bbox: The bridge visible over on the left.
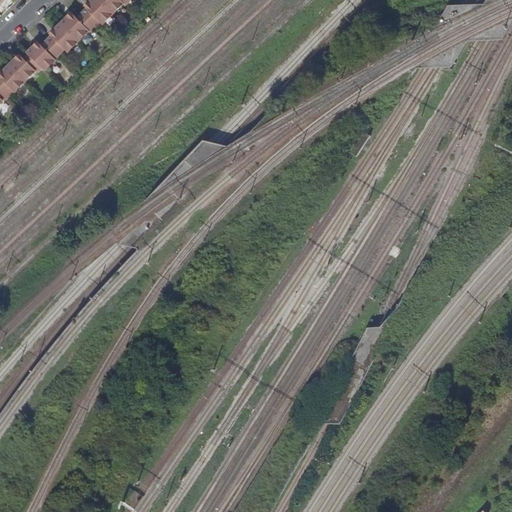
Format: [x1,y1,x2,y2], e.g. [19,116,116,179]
[110,130,252,250]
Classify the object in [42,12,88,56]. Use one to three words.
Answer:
house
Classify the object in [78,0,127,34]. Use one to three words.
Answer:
house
